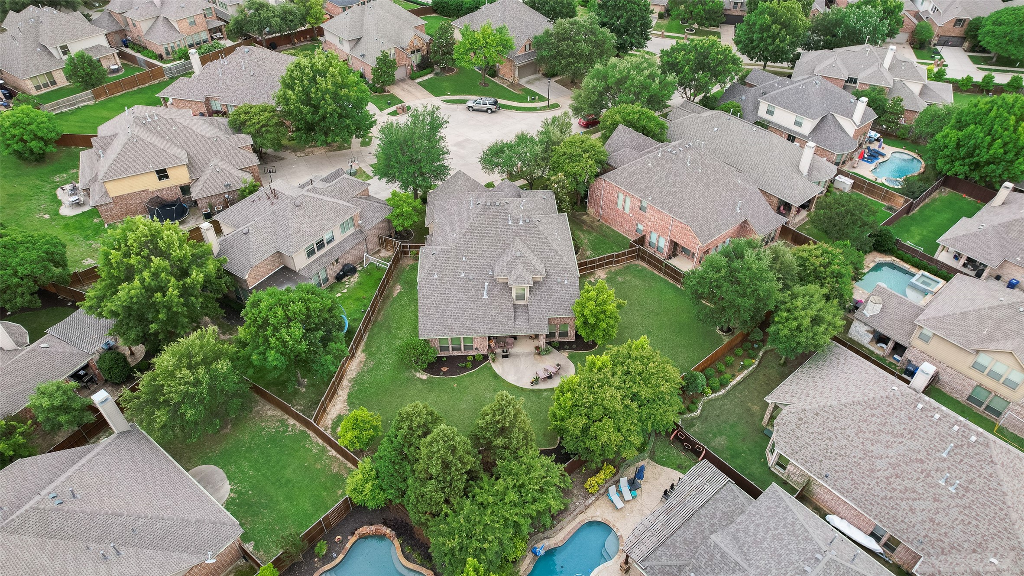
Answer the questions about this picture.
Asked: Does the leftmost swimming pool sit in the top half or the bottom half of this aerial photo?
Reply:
bottom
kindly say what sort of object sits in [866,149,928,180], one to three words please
swimming pool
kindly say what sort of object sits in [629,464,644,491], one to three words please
umbrella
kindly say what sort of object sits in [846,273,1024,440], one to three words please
house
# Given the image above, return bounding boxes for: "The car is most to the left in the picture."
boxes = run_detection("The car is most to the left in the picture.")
[464,94,503,113]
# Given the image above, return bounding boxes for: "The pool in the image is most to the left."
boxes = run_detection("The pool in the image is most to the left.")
[309,527,439,576]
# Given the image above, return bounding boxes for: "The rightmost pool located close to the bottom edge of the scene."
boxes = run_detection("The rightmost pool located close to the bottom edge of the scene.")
[524,512,628,576]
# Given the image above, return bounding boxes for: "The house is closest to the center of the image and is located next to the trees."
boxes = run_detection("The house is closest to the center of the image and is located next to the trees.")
[416,170,581,357]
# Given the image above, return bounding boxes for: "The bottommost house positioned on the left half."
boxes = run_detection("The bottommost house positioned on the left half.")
[0,386,247,576]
